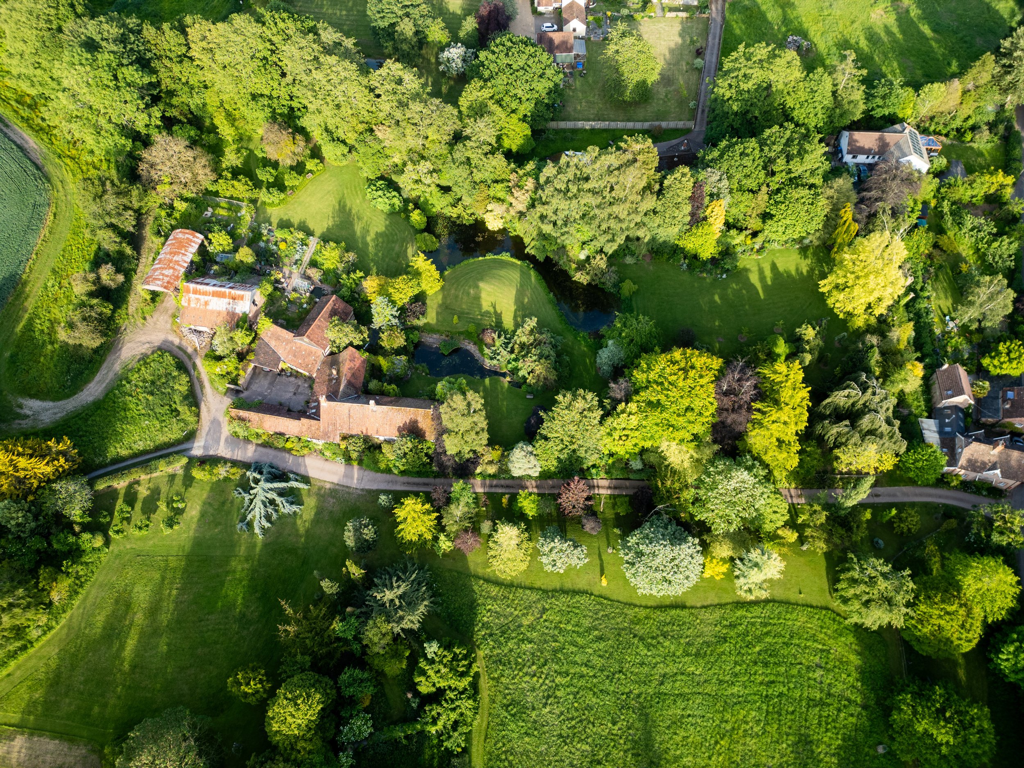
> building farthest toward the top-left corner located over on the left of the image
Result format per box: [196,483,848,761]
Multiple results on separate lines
[141,229,210,302]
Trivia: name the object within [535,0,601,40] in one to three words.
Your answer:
house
